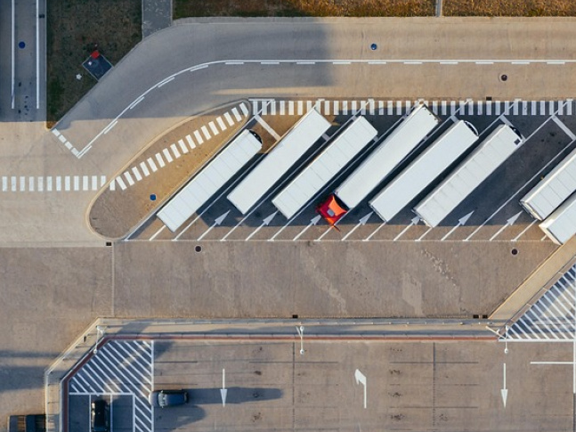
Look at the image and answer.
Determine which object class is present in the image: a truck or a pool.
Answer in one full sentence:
It is a truck that can be seen here.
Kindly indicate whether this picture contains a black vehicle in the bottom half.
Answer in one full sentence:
Yes, looking in the bottom half, one can make out a black vehicle.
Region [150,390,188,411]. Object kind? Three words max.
car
